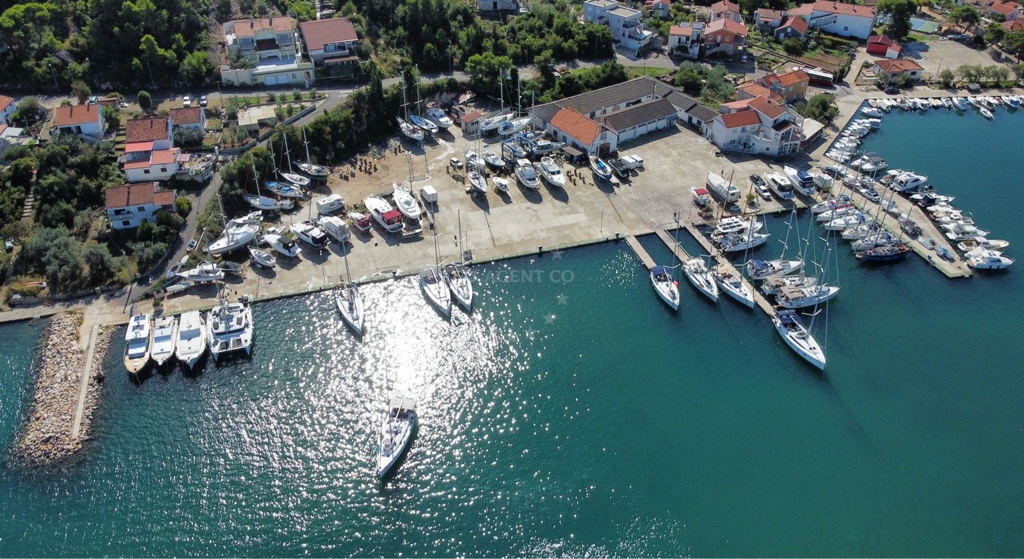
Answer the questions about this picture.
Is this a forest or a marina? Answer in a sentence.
This looks like a marina.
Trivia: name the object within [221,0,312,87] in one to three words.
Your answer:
house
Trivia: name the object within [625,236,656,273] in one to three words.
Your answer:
pier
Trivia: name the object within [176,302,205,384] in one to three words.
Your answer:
boat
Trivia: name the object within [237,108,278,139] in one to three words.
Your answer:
shed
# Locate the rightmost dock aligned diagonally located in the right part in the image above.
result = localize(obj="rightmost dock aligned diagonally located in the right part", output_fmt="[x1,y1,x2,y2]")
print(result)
[685,225,779,319]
